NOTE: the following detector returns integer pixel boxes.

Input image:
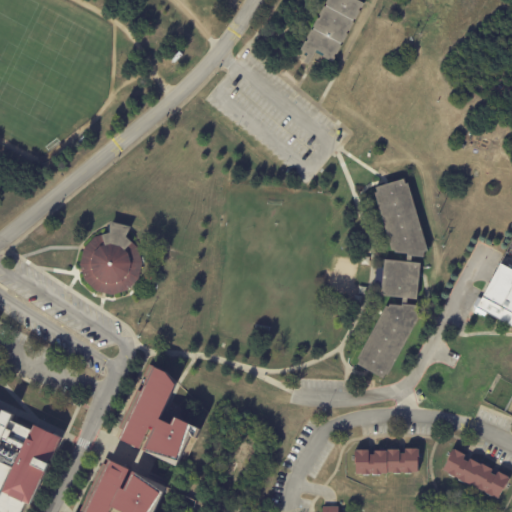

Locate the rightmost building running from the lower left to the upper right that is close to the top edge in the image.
[302,0,366,63]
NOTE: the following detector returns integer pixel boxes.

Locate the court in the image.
[330,256,358,283]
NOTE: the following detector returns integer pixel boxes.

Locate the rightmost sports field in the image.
[234,197,336,353]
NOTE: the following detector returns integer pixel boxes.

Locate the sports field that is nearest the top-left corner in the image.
[0,0,106,130]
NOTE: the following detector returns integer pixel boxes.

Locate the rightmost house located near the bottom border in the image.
[444,448,510,498]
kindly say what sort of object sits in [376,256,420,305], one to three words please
building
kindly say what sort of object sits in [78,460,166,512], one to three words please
building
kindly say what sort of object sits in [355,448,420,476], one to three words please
house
